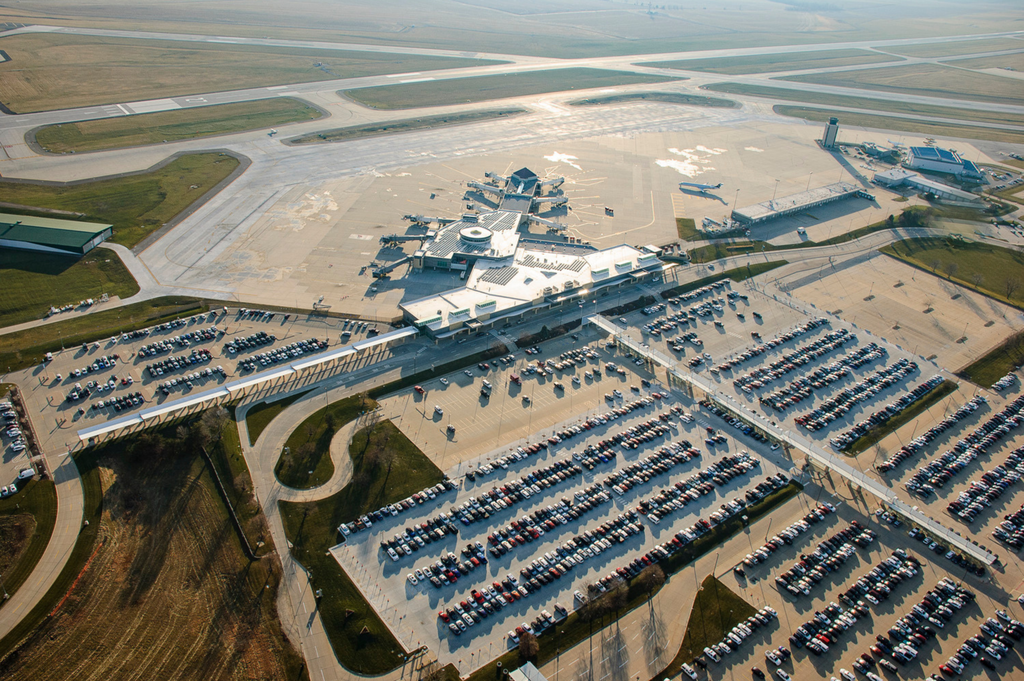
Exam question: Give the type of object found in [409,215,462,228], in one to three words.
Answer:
jet bridge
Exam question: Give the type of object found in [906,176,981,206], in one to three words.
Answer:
shed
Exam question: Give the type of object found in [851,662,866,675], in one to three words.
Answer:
vehicle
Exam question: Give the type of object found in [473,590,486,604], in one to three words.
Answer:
vehicle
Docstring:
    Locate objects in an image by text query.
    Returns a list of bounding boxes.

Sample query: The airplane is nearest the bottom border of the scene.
[677,177,726,190]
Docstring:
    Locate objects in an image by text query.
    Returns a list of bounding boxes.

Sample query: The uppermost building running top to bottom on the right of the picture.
[822,110,842,146]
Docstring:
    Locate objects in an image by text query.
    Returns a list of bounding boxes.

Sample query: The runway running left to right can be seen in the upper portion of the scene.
[0,31,1024,129]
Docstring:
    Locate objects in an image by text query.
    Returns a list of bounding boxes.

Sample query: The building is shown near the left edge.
[0,213,115,256]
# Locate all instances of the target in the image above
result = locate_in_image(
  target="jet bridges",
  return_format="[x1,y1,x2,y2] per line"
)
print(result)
[527,212,569,232]
[372,253,413,278]
[537,176,567,189]
[409,215,462,228]
[533,196,570,207]
[467,182,505,197]
[484,172,509,186]
[380,234,427,247]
